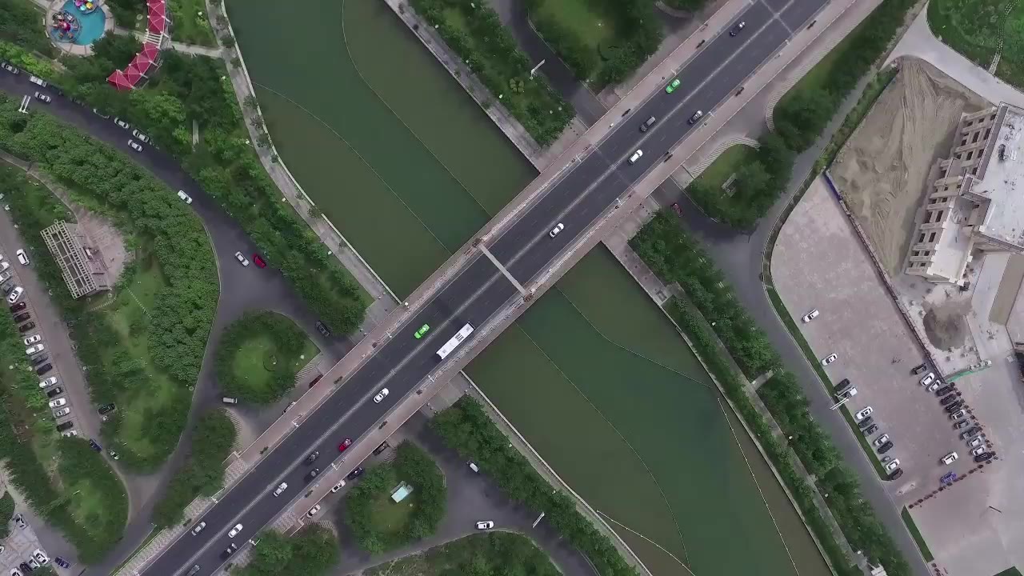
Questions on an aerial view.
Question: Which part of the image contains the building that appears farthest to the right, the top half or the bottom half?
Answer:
top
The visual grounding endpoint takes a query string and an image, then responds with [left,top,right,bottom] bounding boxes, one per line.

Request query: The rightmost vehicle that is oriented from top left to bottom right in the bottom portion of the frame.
[464,459,481,474]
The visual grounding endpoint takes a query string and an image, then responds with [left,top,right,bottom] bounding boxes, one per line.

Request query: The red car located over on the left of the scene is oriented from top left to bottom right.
[252,253,267,269]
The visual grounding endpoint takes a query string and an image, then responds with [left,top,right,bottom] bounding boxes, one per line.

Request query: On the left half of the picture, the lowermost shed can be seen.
[389,475,415,503]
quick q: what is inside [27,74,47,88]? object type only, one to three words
vehicle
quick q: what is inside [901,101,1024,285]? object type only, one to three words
building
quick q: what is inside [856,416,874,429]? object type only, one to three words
vehicle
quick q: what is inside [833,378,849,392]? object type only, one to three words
car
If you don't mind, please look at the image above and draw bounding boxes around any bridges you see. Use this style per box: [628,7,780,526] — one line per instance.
[110,0,858,576]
